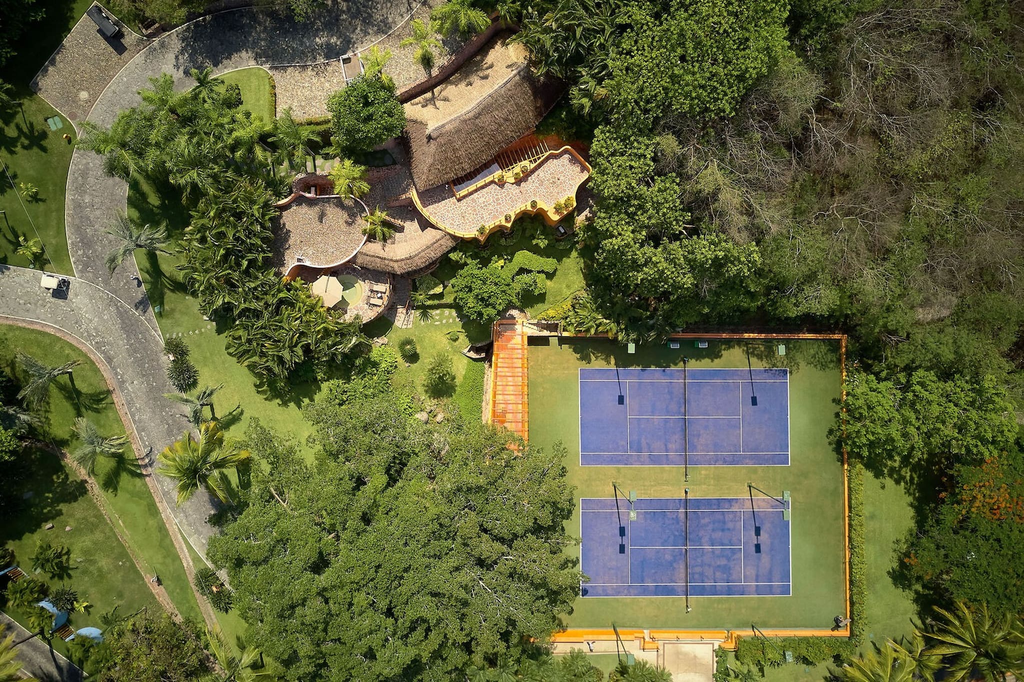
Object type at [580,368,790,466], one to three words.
tennis court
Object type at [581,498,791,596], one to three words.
tennis court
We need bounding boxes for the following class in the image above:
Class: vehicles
[82,3,128,46]
[40,274,71,289]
